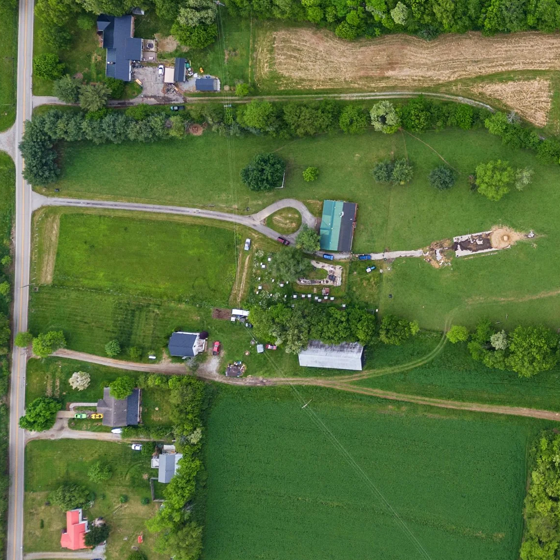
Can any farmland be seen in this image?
Yes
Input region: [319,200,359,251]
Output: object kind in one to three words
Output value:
house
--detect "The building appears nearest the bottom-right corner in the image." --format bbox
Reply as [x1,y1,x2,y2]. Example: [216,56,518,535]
[300,340,366,372]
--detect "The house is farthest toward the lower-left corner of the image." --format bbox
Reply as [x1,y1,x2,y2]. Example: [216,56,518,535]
[57,509,95,553]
